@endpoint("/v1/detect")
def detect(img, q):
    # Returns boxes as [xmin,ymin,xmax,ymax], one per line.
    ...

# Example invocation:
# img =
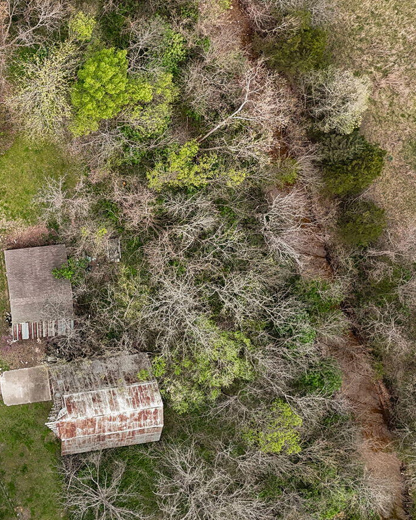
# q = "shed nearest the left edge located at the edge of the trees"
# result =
[4,244,74,342]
